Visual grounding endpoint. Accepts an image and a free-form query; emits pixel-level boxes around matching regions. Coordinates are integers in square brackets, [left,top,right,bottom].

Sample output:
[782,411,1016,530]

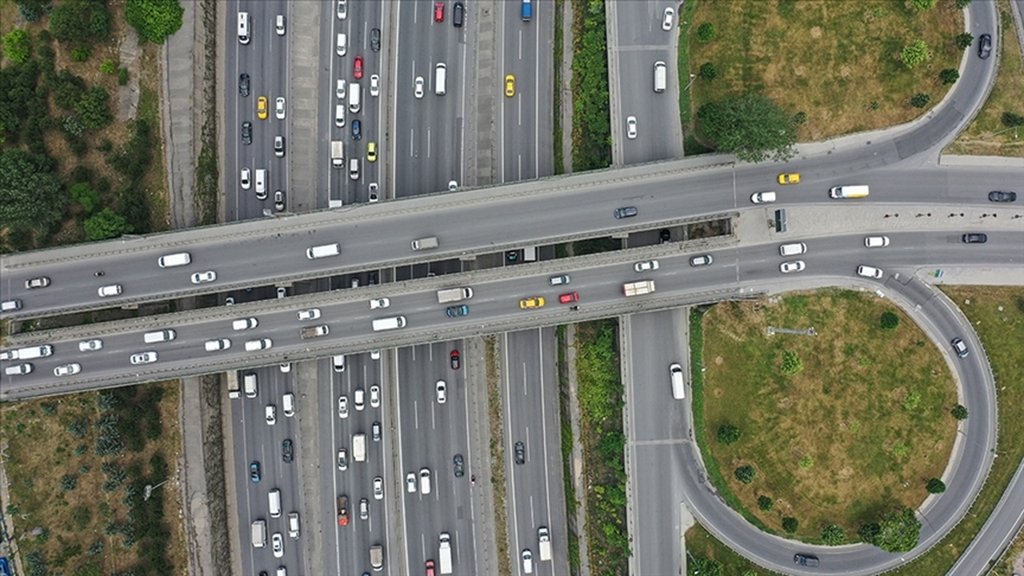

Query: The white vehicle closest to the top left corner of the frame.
[237,10,251,45]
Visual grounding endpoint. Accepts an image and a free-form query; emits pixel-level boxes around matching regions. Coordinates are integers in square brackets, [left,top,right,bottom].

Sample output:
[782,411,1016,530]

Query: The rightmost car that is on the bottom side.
[949,336,968,359]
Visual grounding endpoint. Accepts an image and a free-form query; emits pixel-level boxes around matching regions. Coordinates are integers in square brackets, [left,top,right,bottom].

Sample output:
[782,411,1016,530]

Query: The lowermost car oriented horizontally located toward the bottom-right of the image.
[793,552,820,566]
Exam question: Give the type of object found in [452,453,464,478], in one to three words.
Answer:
vehicle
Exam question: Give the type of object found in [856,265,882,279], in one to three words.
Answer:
car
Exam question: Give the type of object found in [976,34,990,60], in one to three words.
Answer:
car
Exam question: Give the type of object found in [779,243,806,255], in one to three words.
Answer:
vehicle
